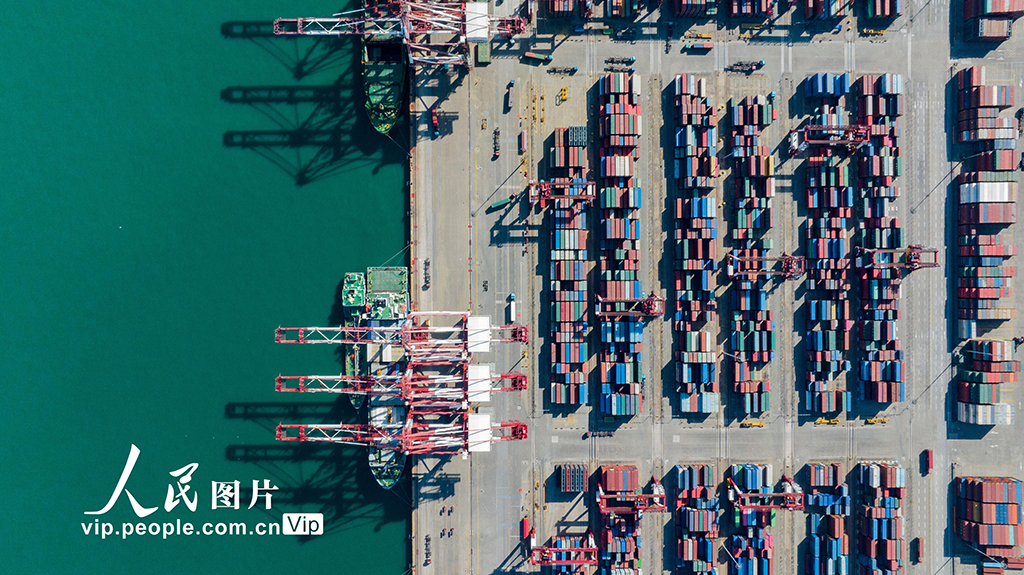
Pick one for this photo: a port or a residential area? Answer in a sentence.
The area seen from above is a port.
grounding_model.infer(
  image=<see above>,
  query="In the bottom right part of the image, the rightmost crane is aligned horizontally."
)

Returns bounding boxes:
[728,479,806,511]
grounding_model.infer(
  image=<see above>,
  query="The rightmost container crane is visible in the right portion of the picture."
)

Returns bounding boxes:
[856,246,939,271]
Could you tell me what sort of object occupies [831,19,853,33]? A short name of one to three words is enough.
work vehicle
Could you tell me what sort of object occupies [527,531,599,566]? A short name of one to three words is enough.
container crane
